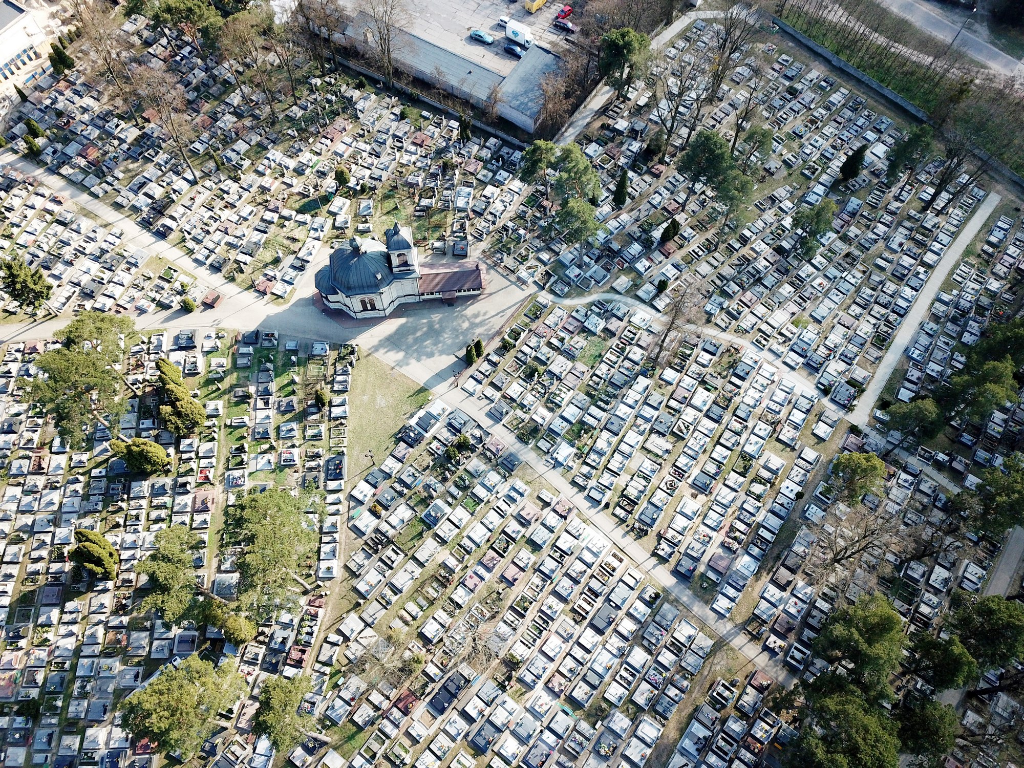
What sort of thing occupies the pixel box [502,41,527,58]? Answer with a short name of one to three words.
car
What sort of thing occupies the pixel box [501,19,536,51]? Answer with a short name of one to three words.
truck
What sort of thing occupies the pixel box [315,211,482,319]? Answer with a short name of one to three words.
building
